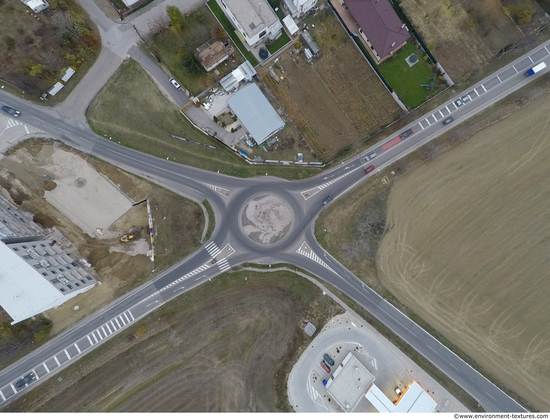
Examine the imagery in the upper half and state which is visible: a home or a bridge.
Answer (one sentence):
You can see a home in the upper half.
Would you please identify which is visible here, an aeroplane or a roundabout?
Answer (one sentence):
Of the two, only a roundabout appears.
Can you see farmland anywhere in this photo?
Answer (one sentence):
Yes, there is farmland in the image.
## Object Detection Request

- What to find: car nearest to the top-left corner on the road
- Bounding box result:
[2,104,22,117]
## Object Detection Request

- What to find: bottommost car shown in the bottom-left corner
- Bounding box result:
[16,372,37,388]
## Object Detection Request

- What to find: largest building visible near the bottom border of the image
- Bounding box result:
[327,351,375,412]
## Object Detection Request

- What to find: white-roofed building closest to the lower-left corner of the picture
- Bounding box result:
[0,242,97,325]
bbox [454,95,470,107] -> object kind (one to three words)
vehicle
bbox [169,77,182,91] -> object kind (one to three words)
vehicle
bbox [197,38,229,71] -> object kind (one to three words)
house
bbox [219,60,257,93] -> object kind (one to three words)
shed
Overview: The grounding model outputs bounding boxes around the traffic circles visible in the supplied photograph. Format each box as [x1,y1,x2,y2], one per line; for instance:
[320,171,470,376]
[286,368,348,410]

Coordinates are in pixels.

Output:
[238,191,295,248]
